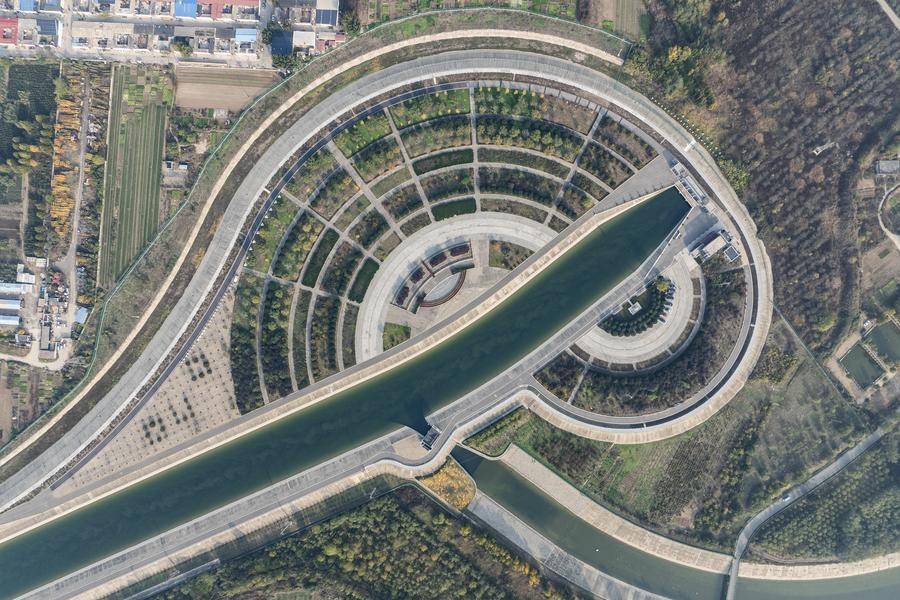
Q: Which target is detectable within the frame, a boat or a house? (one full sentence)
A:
There is a house in the scene.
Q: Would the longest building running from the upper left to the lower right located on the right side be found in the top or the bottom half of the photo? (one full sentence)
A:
The top half of the photo is where the longest building running from the upper left to the lower right located on the right side is.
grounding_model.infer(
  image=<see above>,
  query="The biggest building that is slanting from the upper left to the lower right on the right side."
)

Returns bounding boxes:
[670,163,712,214]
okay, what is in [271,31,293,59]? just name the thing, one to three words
house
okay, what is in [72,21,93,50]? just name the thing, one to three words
house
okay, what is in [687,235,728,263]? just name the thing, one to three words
building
